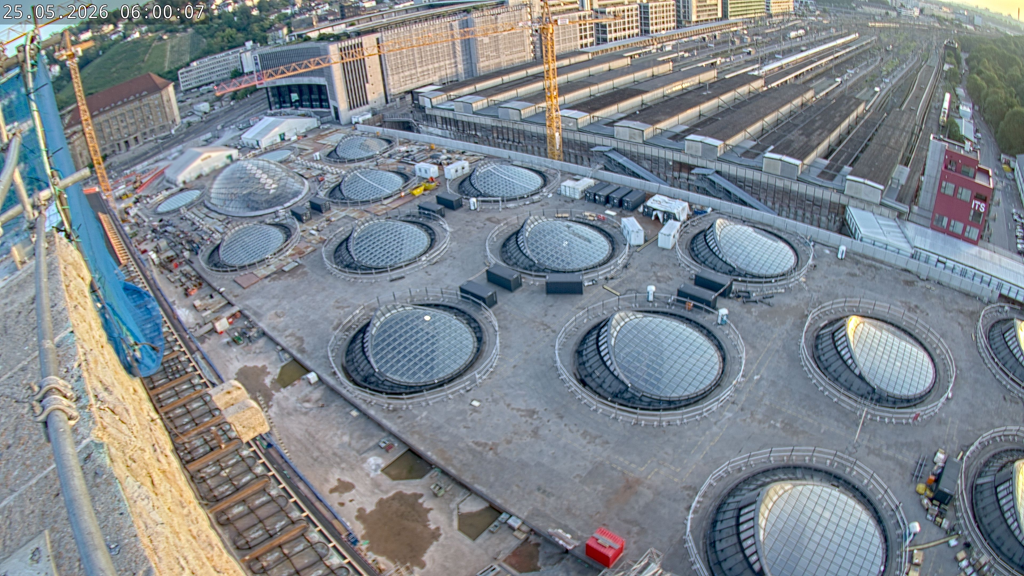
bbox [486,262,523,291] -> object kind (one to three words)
shipping container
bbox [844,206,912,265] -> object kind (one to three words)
building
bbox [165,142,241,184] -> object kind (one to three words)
tent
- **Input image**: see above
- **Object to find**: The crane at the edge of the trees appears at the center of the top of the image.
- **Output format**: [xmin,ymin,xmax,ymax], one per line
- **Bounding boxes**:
[213,0,615,161]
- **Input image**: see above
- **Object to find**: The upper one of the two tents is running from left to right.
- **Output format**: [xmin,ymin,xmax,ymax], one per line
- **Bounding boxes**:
[243,113,323,148]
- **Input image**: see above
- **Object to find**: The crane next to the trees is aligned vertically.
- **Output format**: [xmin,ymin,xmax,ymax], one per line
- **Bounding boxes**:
[63,29,116,206]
